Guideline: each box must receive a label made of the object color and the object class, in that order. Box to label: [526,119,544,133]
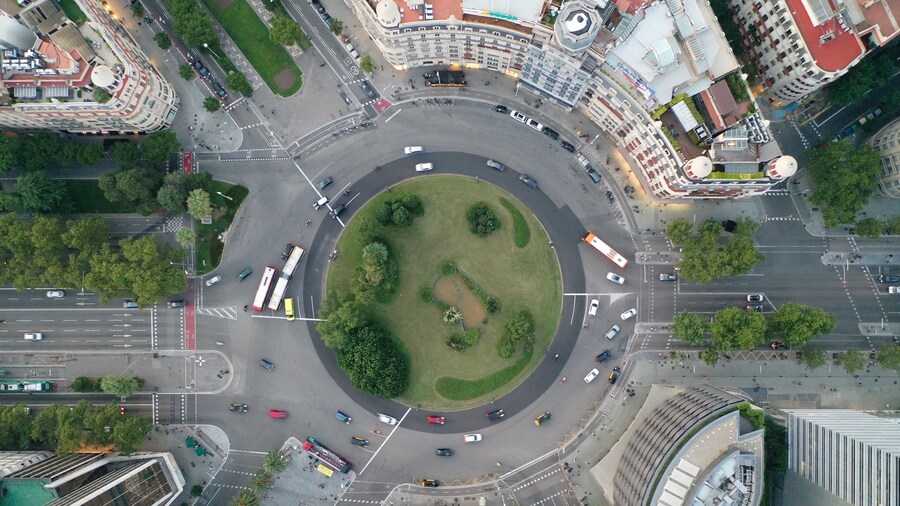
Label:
white vehicle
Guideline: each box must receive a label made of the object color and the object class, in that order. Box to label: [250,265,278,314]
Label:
white bus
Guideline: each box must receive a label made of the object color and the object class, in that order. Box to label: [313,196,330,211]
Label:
white car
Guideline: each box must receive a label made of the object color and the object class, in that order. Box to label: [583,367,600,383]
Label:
white car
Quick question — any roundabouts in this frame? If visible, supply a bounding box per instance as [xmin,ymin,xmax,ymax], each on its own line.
[197,98,650,490]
